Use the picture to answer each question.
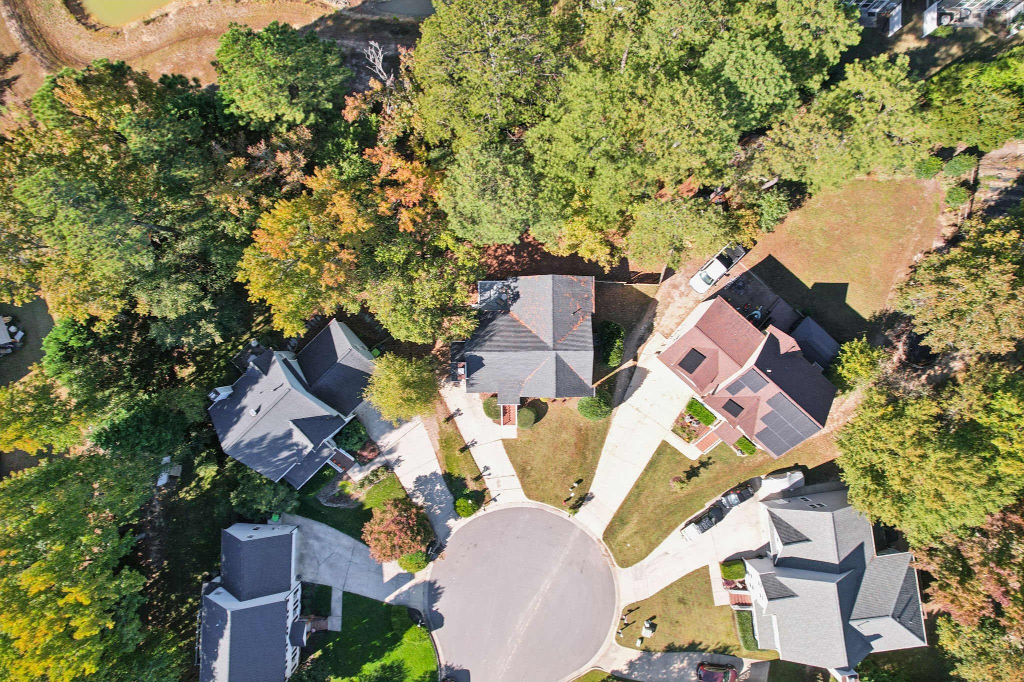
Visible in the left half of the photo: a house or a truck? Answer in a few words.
house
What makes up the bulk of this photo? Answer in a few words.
trees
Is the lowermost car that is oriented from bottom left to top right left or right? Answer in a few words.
right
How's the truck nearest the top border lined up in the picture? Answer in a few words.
at an angle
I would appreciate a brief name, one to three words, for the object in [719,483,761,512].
car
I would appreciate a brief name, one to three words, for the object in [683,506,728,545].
car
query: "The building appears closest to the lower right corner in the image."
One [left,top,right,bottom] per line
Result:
[729,495,927,682]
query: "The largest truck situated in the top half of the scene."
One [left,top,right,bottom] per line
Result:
[696,241,750,293]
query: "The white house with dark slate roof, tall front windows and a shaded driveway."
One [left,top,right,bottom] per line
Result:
[198,525,328,682]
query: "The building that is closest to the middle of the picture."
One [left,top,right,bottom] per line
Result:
[451,274,597,427]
